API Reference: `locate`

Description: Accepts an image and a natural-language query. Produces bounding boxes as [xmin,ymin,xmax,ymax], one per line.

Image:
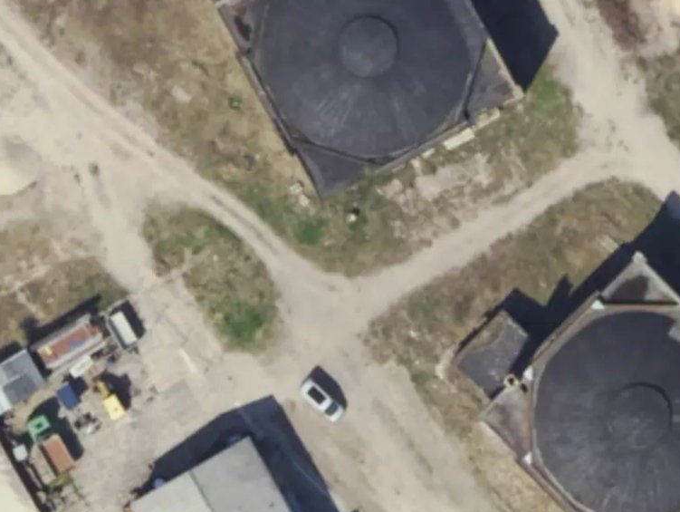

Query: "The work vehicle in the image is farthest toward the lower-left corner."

[95,377,126,420]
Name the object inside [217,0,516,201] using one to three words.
storage tank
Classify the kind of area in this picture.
industrial area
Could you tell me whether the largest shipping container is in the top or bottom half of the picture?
bottom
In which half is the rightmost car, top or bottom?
bottom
